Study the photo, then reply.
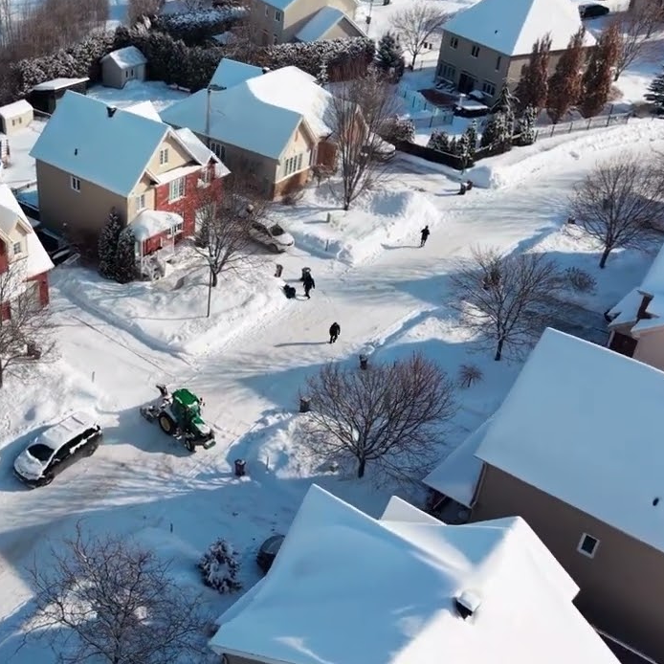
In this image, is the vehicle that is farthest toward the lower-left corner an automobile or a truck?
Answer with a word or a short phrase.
automobile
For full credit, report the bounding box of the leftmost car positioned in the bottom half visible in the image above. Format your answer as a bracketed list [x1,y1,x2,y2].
[13,410,104,480]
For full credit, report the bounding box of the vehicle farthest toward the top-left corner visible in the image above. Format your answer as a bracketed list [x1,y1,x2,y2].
[33,219,73,252]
